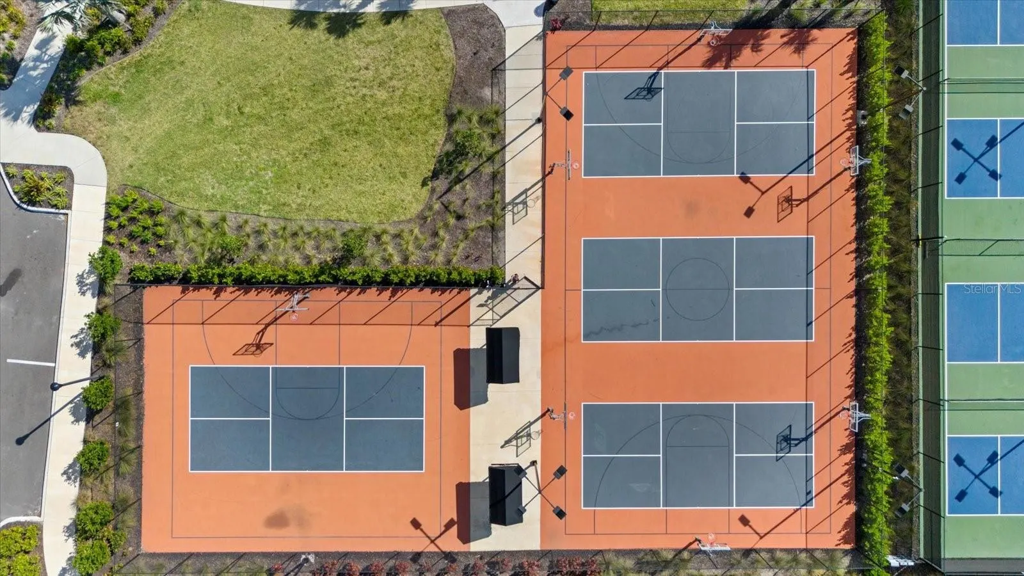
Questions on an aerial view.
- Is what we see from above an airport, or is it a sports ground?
sports ground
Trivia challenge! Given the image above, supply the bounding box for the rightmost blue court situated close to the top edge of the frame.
[947,0,1024,199]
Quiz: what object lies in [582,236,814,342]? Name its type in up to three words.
sports court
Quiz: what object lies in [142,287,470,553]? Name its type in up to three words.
basketball court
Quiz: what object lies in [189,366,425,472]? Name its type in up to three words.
sports court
